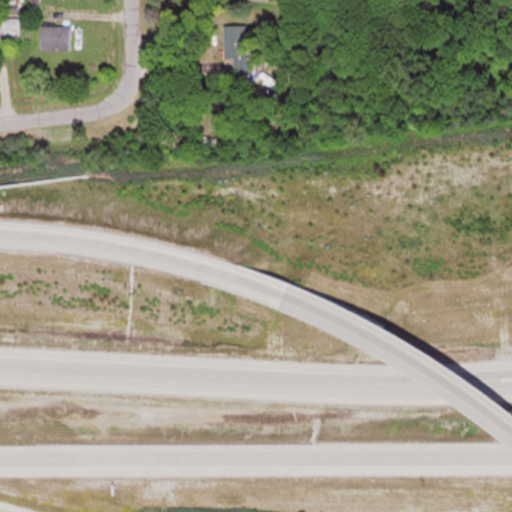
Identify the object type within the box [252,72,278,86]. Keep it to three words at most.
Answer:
boat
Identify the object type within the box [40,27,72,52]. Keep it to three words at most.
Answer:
house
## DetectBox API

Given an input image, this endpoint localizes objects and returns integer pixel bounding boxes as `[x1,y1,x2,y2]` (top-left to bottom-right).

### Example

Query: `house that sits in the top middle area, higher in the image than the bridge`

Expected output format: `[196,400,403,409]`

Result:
[224,26,248,71]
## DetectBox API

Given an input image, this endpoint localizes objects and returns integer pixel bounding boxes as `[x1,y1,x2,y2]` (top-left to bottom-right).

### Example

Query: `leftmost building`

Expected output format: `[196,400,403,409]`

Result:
[1,19,20,38]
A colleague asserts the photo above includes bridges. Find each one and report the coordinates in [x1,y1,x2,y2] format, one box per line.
[232,266,512,456]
